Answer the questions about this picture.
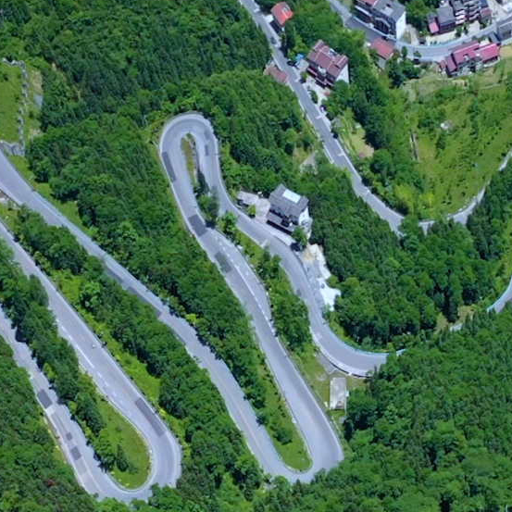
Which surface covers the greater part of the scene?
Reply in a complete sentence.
The bulk of the photo consists of trees.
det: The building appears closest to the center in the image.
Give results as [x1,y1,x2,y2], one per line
[261,186,317,237]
